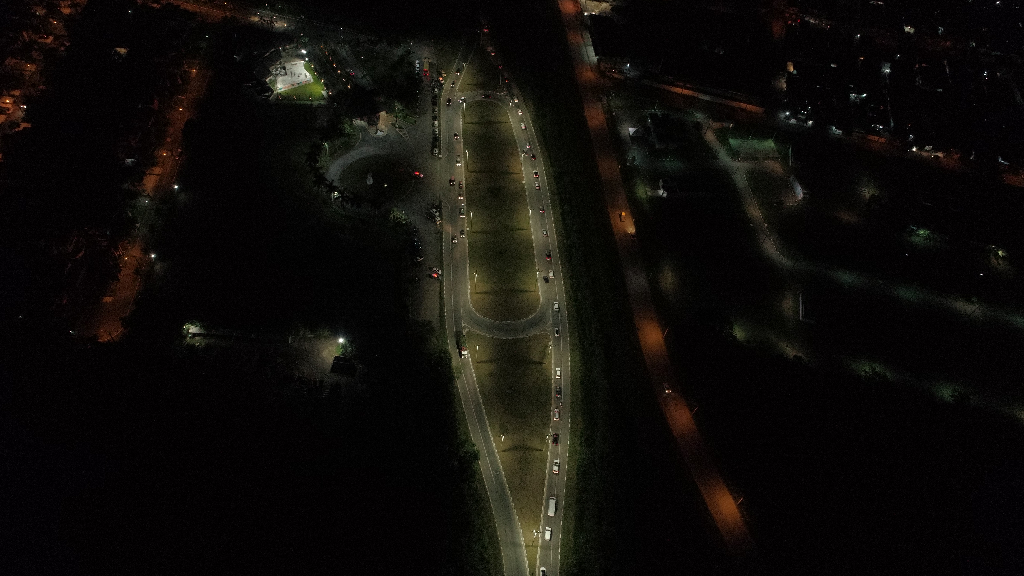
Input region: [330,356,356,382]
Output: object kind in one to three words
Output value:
shed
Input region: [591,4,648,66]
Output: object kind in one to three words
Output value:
building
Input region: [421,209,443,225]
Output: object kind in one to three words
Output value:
vehicle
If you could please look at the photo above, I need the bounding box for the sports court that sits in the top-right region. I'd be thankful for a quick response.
[729,138,779,160]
